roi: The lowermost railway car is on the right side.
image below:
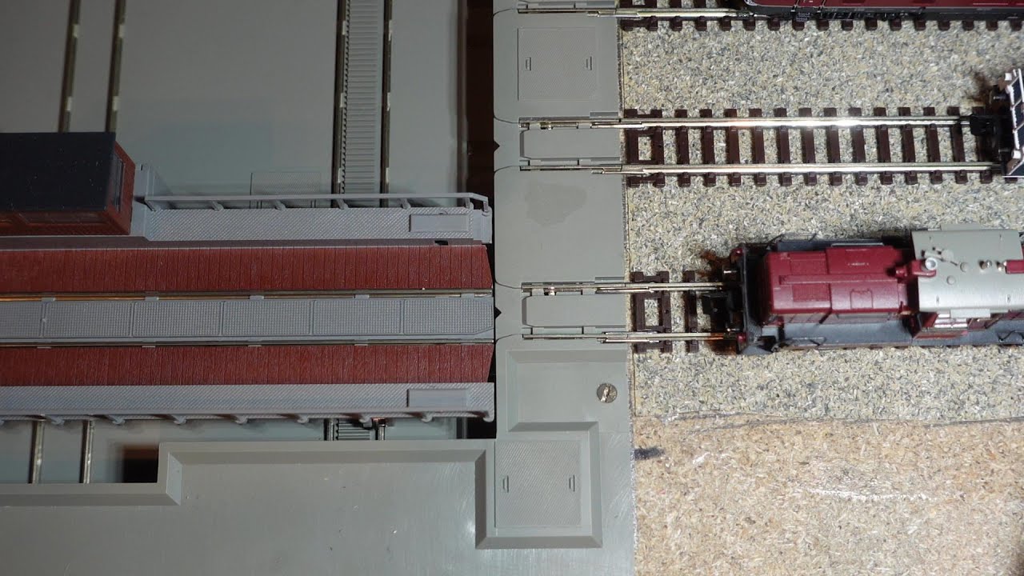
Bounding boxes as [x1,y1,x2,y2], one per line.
[701,225,1024,360]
